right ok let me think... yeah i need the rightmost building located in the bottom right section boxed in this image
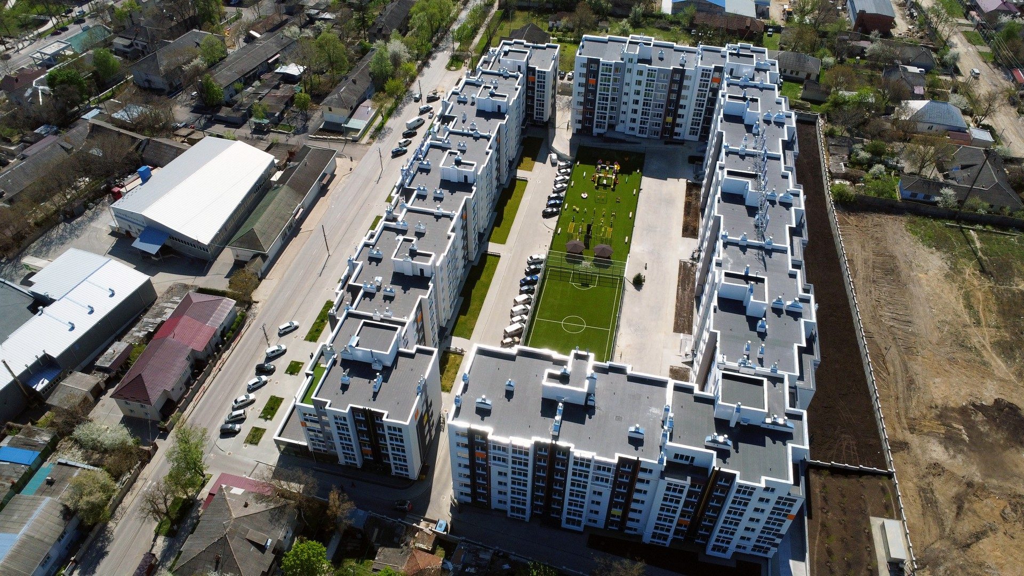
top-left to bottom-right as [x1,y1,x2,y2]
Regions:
[874,519,906,569]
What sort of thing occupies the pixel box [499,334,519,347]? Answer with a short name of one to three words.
vehicle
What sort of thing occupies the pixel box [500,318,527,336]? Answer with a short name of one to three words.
vehicle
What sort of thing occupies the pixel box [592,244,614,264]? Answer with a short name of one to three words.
gazebo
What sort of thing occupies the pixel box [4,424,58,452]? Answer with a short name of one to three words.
shed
